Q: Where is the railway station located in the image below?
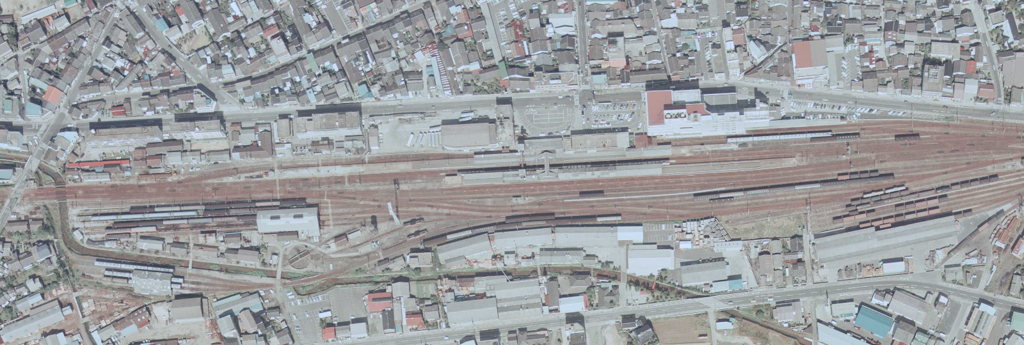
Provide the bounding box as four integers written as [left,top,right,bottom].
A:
[280,130,797,186]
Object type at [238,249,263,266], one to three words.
house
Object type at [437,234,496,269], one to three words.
building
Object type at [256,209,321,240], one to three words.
shed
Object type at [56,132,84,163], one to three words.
building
